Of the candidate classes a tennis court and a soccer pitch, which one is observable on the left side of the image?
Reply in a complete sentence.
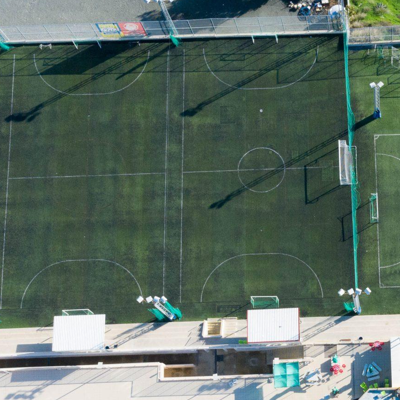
Visible on the left side of the image is a soccer pitch.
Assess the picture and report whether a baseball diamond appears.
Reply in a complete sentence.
No, no baseball diamond is visible in the view.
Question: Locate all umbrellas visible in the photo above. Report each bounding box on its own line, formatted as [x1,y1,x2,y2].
[274,362,302,390]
